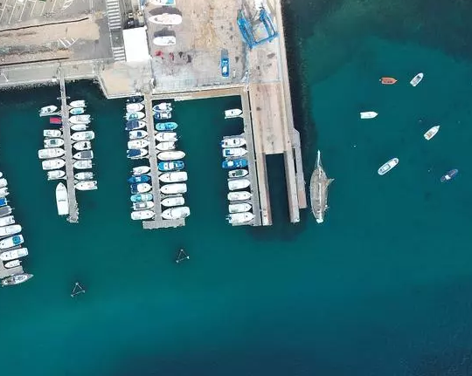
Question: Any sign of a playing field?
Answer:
No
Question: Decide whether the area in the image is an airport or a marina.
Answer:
marina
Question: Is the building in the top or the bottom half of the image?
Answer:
top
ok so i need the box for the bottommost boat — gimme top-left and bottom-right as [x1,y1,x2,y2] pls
[0,274,33,287]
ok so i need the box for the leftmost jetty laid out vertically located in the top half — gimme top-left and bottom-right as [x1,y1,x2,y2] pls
[40,76,79,221]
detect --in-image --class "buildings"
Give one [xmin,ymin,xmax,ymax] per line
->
[123,28,148,65]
